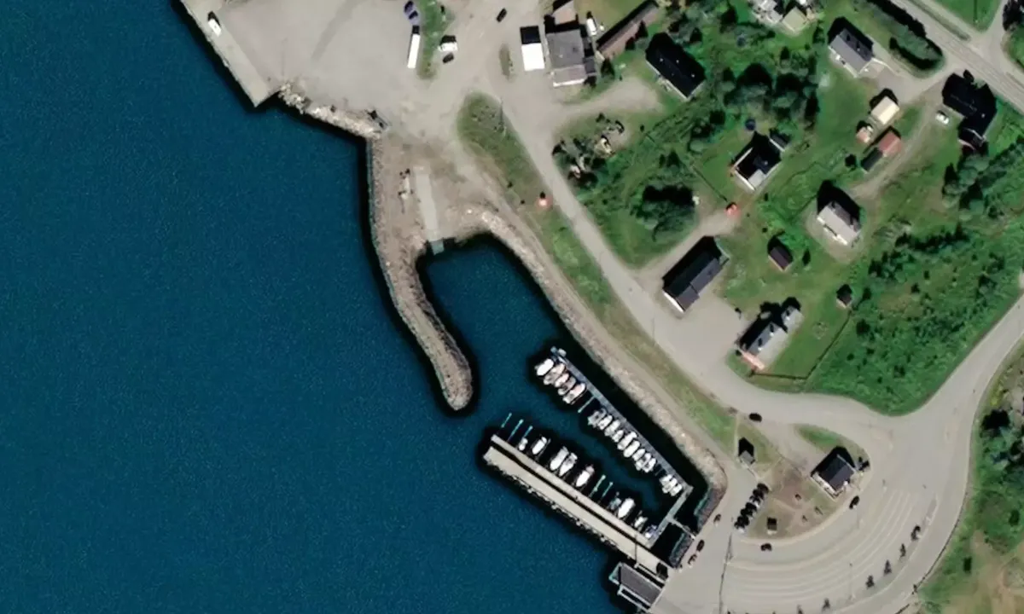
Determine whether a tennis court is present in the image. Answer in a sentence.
No, this view has no tennis court in it.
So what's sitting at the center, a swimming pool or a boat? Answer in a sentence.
What appears at the center is a boat.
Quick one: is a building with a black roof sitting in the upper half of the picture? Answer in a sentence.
Yes, the scene does show a building with a black roof in the upper half of the picture.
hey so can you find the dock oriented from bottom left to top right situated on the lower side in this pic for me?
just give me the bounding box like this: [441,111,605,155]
[650,488,690,545]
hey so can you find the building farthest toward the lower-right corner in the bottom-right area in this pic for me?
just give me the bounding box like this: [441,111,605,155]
[818,454,856,492]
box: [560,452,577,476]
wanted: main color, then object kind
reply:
white boat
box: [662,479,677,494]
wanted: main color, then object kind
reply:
white boat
